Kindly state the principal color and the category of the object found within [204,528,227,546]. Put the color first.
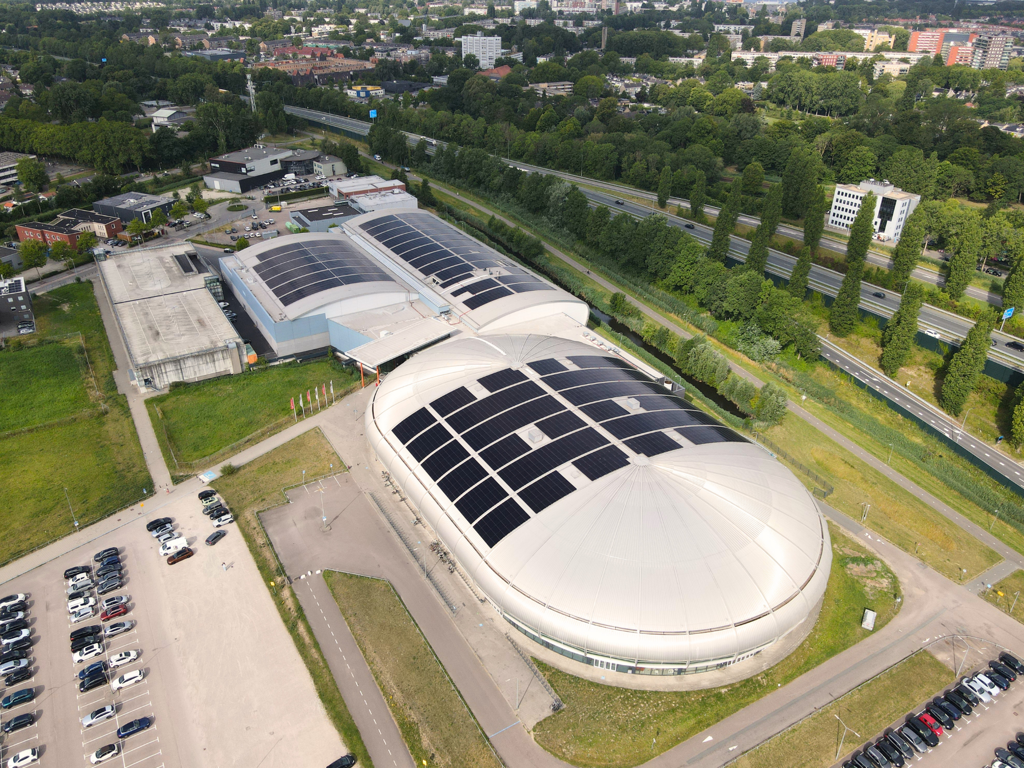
gray car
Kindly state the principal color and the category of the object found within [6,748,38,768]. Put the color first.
white car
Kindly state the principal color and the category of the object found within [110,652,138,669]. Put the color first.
white car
